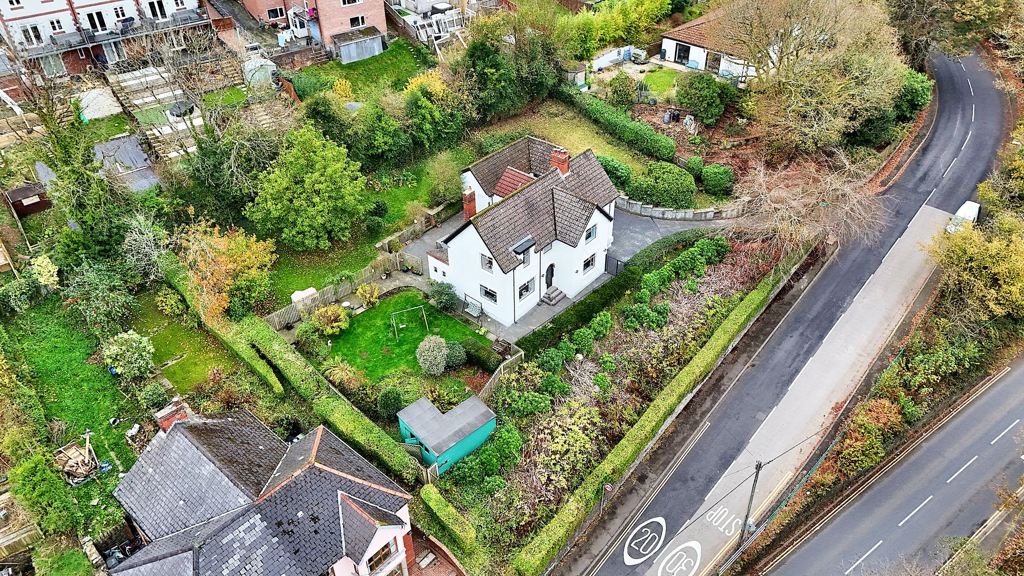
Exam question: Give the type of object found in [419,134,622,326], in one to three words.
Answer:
house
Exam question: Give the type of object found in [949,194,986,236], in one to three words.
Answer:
van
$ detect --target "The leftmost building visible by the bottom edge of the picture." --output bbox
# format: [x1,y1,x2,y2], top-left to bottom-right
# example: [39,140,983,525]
[104,397,415,576]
